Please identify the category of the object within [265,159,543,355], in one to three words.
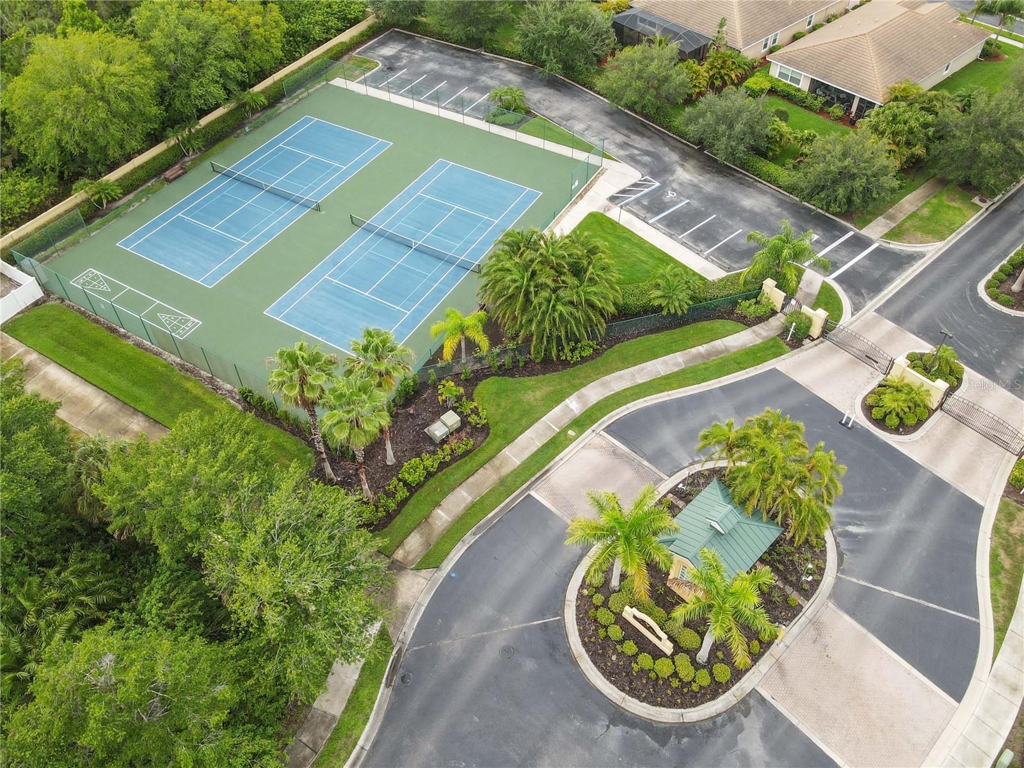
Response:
tennis court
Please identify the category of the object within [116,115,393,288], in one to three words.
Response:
tennis court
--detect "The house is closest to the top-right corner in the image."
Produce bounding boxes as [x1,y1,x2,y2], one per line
[765,0,988,123]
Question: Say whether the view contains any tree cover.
Yes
